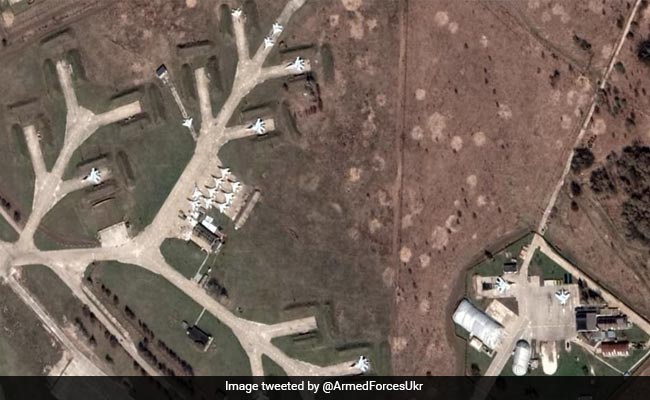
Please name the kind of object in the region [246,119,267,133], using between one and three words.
airplane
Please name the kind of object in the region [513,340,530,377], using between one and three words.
hangar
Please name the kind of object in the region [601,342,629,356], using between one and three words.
building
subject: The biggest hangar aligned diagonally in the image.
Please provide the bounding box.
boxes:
[451,299,507,347]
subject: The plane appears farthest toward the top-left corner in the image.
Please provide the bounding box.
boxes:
[82,170,103,182]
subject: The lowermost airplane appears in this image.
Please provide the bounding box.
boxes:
[351,357,371,370]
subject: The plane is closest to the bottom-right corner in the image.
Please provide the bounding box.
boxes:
[555,287,569,307]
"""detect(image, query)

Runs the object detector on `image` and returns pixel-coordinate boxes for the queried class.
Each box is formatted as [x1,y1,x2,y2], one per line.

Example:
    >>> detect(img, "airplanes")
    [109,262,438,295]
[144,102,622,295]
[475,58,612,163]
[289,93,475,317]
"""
[222,192,237,202]
[285,58,306,71]
[194,186,204,201]
[205,187,220,197]
[555,287,569,307]
[189,200,203,211]
[202,197,216,208]
[218,168,233,179]
[265,34,274,50]
[232,6,242,22]
[351,357,371,370]
[212,177,227,187]
[228,180,243,191]
[273,21,283,36]
[246,119,267,133]
[82,170,103,182]
[215,203,230,213]
[182,116,192,130]
[493,279,513,292]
